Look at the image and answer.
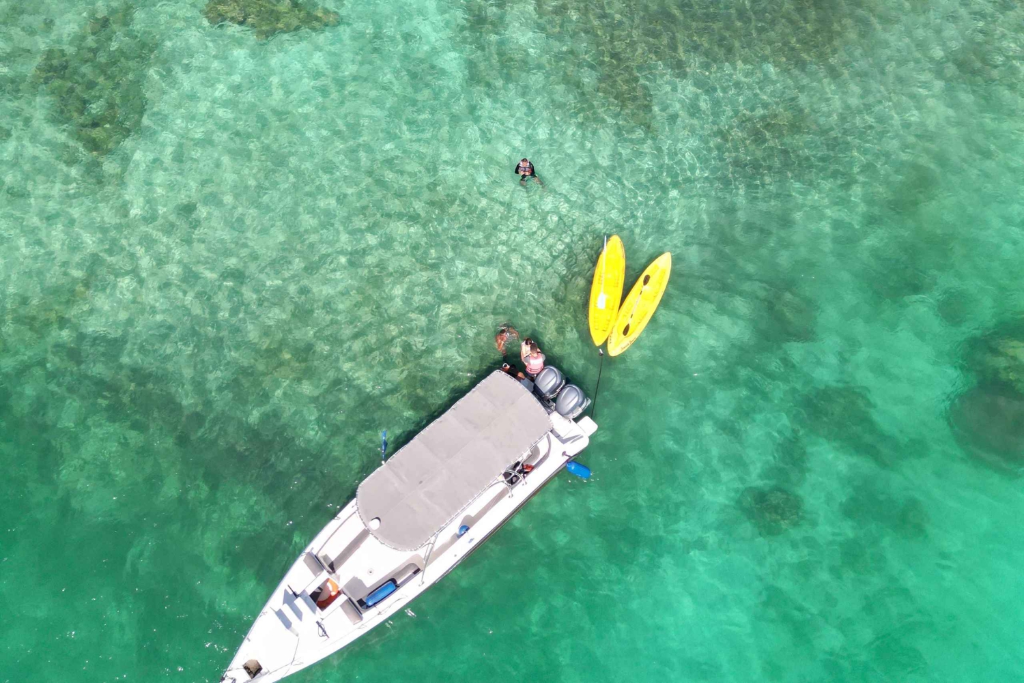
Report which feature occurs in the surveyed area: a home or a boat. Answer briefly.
boat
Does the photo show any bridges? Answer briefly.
No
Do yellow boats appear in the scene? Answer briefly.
Yes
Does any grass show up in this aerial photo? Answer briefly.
No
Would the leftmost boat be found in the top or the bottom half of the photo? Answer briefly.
bottom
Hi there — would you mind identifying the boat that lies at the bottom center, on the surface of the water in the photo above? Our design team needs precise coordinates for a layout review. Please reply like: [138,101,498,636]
[215,368,599,683]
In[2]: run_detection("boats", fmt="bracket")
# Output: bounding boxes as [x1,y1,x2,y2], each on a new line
[589,233,627,346]
[610,250,674,357]
[215,368,599,683]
